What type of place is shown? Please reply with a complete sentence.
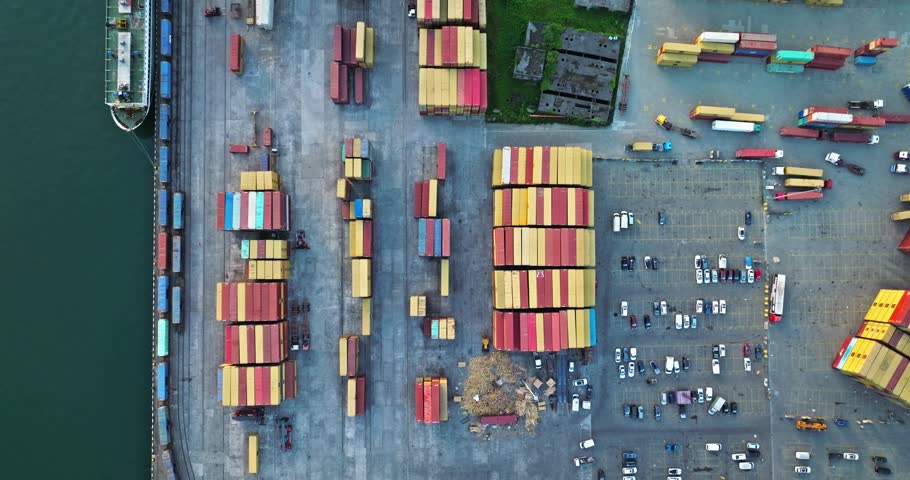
What you see here is a port.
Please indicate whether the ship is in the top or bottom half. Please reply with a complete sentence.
The ship is in the top half of the image.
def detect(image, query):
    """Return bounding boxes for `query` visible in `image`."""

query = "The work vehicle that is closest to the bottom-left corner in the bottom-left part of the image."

[231,408,262,427]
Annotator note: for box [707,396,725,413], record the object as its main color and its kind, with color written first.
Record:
white vehicle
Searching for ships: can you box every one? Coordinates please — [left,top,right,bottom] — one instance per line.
[102,0,156,130]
